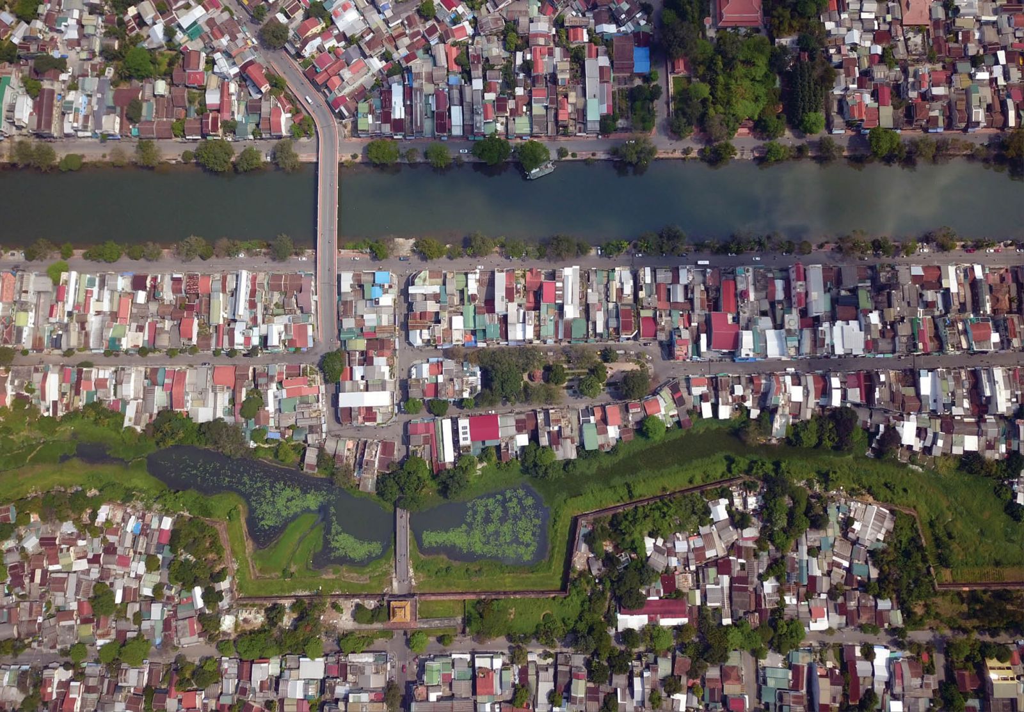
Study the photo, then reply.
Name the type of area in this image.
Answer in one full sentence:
This image shows a residential area.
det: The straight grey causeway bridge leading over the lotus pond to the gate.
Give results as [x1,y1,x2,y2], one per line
[393,496,411,591]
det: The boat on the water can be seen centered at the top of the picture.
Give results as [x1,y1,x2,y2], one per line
[524,163,555,180]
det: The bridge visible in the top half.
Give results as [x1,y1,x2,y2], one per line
[264,41,338,345]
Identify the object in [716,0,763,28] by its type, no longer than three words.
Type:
building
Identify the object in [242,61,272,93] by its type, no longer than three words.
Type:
house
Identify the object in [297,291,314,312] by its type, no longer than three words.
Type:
house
